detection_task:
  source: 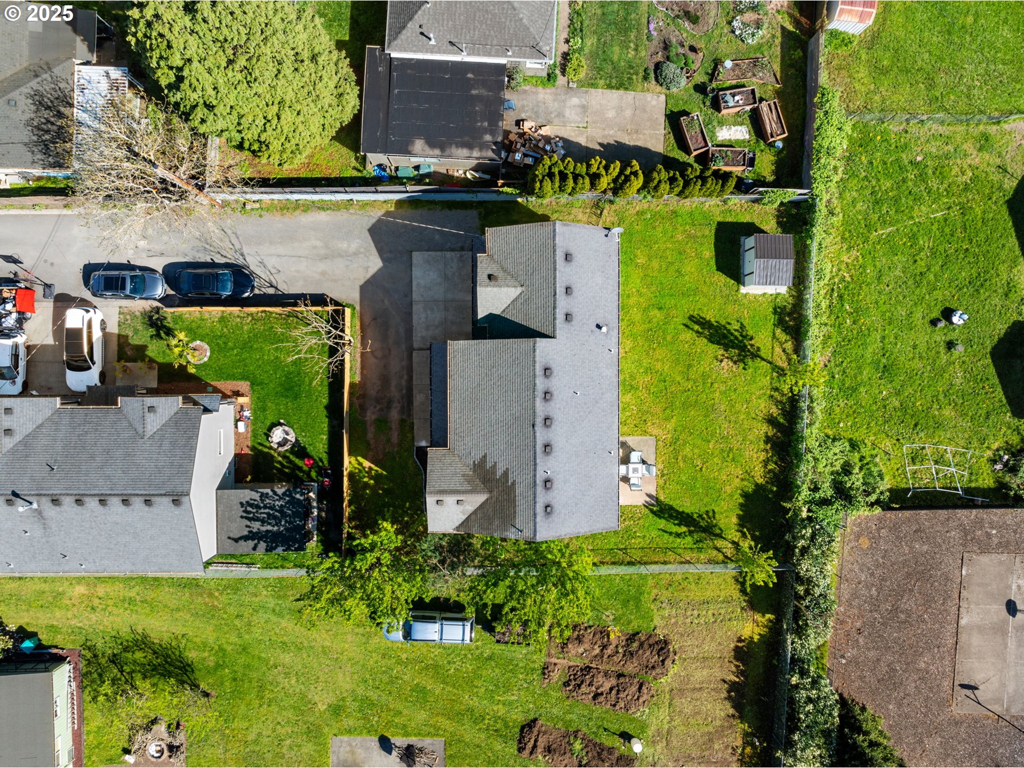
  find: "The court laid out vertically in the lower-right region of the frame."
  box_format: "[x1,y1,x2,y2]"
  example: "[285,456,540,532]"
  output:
[953,552,1024,715]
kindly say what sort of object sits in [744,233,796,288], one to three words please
shed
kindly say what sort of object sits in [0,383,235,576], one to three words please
house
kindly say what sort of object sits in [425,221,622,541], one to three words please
house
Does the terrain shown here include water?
No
